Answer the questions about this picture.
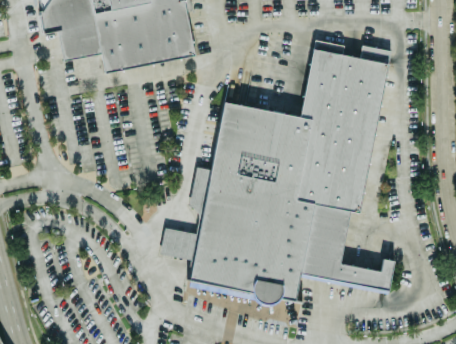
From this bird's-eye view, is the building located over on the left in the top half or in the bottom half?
top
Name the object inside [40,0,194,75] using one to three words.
building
